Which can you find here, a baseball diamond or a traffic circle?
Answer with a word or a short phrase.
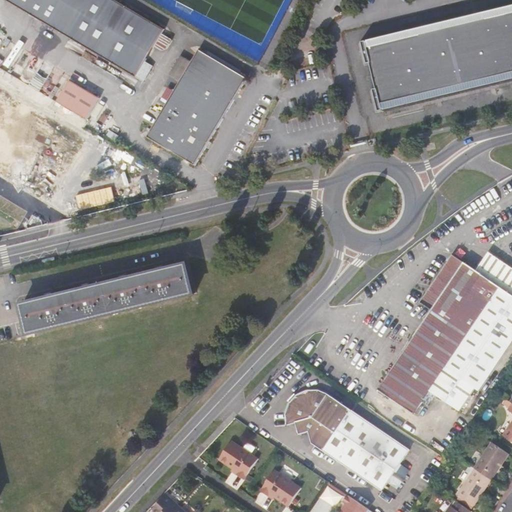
traffic circle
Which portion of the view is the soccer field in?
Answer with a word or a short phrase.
top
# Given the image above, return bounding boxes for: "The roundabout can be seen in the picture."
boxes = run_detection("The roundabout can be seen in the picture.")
[312,146,471,280]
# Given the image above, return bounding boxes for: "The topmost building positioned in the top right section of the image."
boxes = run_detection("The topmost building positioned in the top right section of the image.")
[360,4,512,110]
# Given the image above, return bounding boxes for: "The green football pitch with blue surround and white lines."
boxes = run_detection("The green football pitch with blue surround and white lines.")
[140,0,296,64]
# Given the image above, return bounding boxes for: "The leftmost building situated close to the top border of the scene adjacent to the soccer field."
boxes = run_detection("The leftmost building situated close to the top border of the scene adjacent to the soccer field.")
[4,0,166,76]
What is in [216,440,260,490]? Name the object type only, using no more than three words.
house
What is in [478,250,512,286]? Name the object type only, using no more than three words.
building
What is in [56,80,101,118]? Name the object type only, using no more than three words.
shed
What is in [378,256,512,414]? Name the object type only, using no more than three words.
building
